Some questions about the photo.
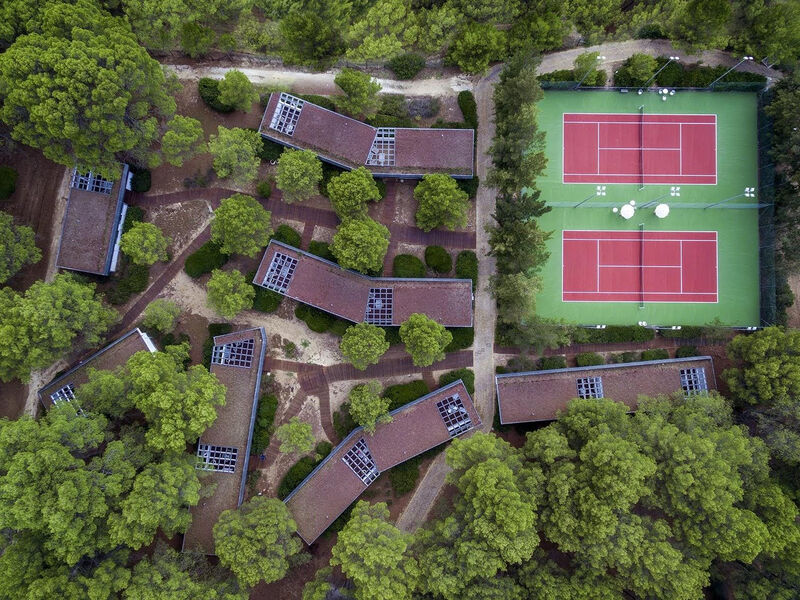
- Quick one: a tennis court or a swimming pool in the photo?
tennis court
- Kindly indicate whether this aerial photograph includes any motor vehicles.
No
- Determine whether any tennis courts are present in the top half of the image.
Yes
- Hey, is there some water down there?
No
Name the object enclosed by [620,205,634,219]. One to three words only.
umbrella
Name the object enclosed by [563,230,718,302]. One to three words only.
tennis court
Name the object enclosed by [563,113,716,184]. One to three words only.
tennis court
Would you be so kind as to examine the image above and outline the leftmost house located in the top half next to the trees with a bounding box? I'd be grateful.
[55,163,130,276]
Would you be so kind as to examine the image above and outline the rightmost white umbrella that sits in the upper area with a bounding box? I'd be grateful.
[653,204,668,218]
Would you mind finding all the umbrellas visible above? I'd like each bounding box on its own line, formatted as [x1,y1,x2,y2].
[620,205,634,219]
[653,204,668,218]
